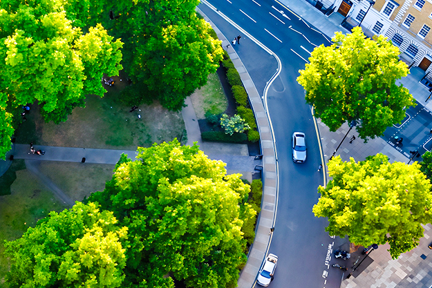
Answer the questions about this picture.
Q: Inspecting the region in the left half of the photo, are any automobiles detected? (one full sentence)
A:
No, the scene shows no automobile in the left half of the photo.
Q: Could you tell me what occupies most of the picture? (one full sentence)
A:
The bulk of the photo consists of trees.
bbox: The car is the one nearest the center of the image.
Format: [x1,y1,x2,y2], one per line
[291,133,307,162]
